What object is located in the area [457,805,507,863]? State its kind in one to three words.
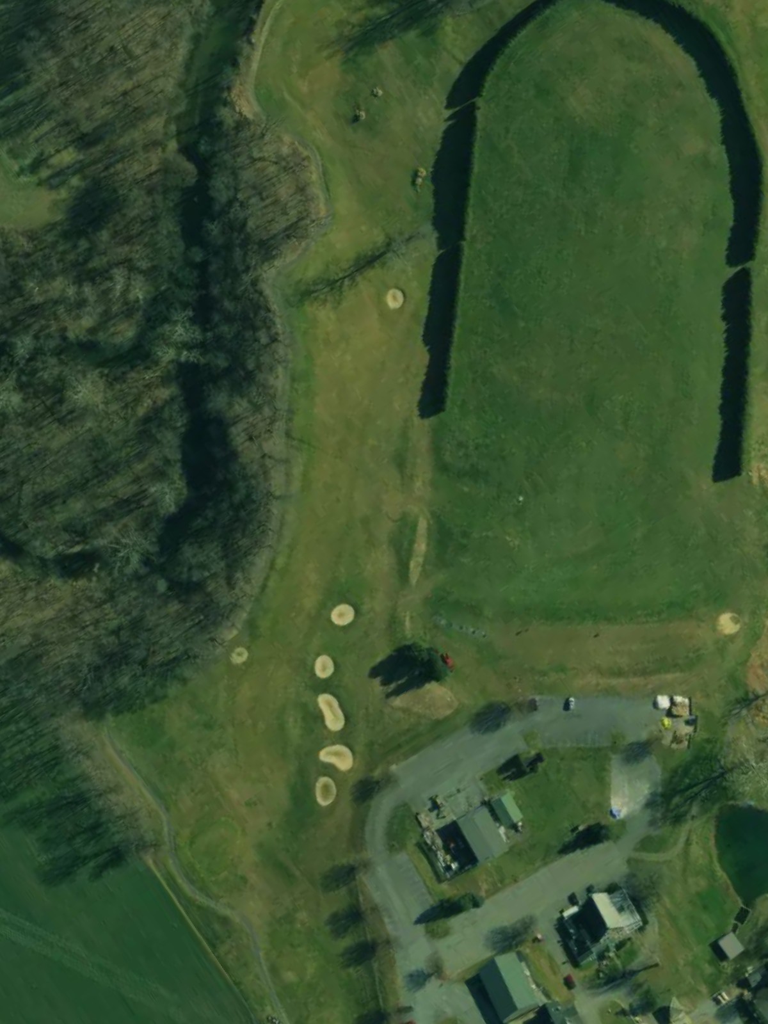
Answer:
building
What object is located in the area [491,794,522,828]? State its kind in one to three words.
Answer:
shed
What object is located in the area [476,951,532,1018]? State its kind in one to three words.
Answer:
barn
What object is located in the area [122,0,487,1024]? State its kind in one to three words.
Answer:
golf course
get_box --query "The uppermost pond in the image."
[715,803,768,908]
